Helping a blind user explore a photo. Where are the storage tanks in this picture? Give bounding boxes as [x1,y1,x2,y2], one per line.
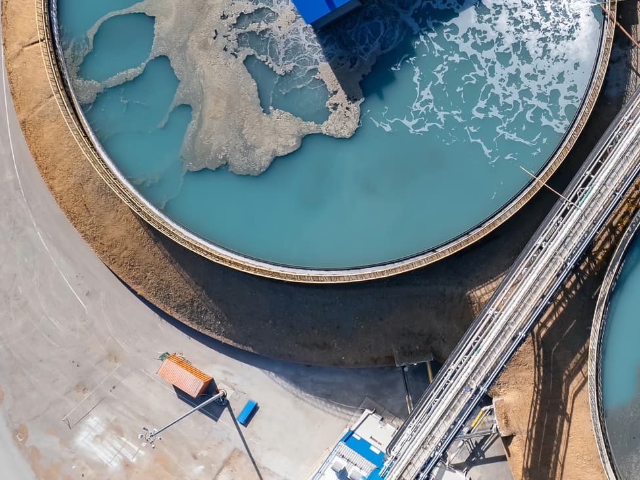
[583,199,640,480]
[34,0,618,285]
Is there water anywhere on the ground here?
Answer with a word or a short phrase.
Yes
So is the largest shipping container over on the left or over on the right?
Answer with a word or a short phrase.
left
